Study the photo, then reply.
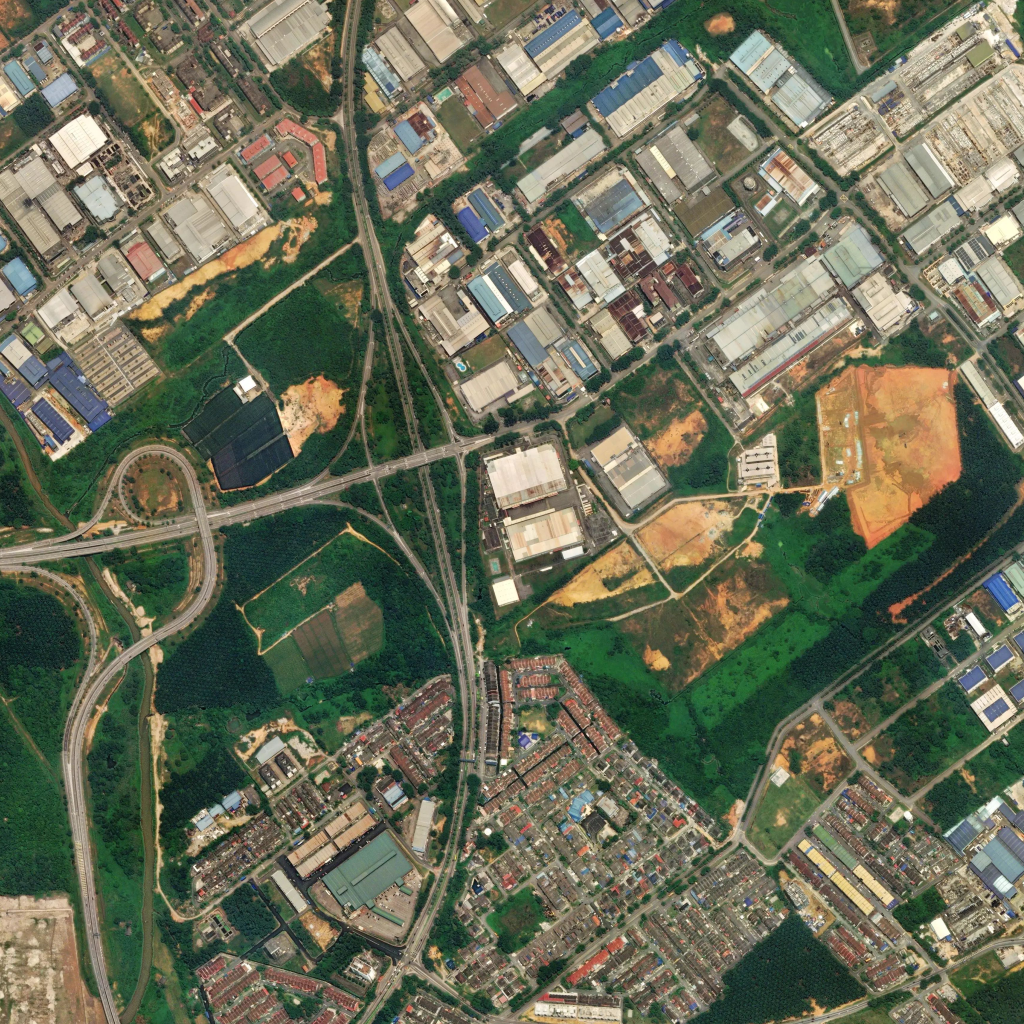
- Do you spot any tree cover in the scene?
Yes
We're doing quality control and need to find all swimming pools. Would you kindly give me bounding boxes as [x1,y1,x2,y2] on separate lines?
[433,86,454,103]
[452,357,473,378]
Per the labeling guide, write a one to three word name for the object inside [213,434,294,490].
house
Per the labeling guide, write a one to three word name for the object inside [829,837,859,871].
building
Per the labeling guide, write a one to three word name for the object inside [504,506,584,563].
building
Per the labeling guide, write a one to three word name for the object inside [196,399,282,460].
house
